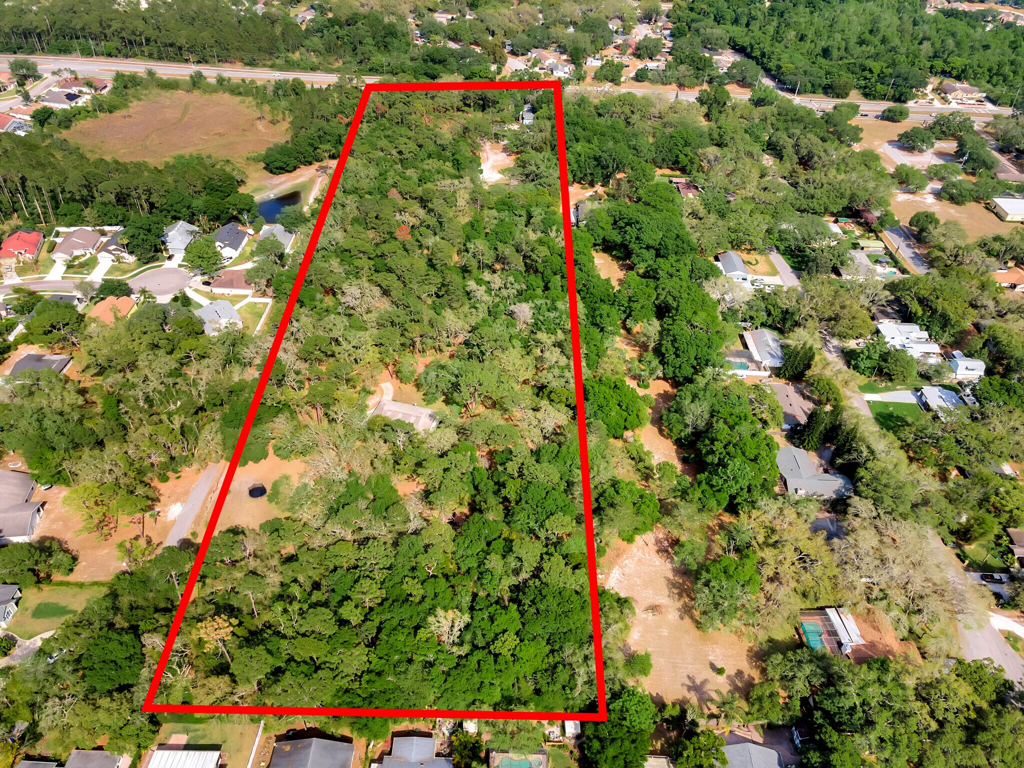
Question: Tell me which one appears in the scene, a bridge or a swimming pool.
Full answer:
There is a swimming pool in the scene.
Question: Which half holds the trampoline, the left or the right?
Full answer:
You can find the trampoline on the left side of the picture.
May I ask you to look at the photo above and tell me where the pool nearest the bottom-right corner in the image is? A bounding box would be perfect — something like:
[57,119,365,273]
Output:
[800,611,843,653]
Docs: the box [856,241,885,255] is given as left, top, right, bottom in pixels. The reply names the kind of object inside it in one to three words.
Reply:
shed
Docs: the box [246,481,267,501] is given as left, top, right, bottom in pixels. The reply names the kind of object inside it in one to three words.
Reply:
trampoline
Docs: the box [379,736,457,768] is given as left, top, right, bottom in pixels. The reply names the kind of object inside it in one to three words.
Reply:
house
